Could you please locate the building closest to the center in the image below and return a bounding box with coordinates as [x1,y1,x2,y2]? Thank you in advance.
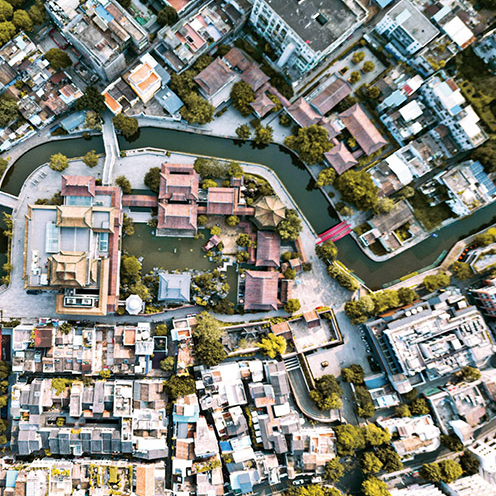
[252,231,280,267]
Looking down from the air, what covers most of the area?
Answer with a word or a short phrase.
buildings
